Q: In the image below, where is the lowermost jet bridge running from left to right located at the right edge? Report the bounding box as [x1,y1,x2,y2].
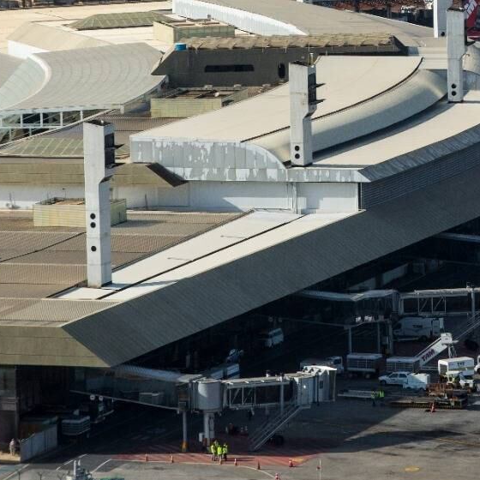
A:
[303,287,480,359]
